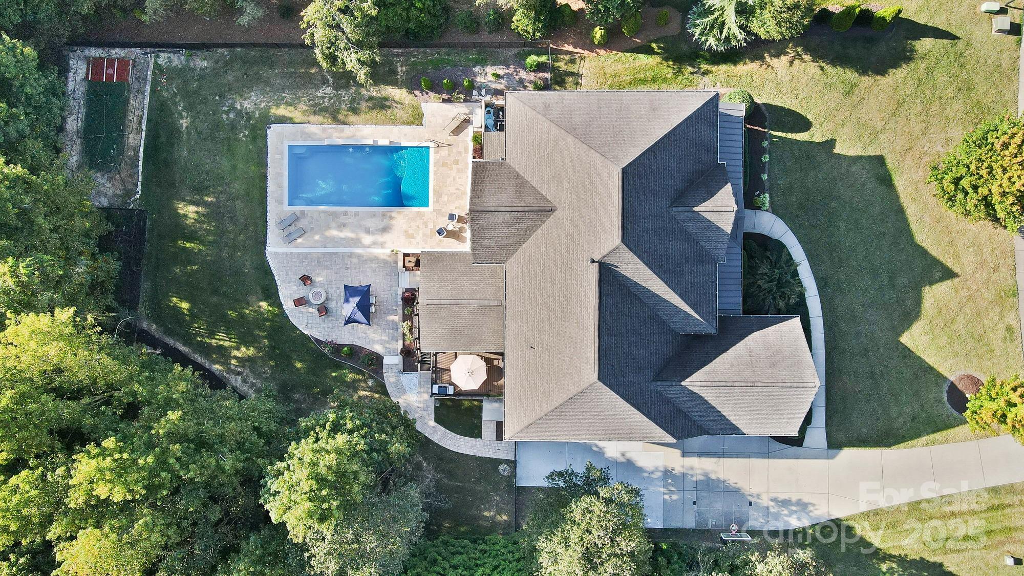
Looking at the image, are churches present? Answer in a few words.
No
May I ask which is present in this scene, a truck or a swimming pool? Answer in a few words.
swimming pool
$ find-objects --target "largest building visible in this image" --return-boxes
[418,89,820,443]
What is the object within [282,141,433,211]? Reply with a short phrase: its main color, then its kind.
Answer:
blue swimming pool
